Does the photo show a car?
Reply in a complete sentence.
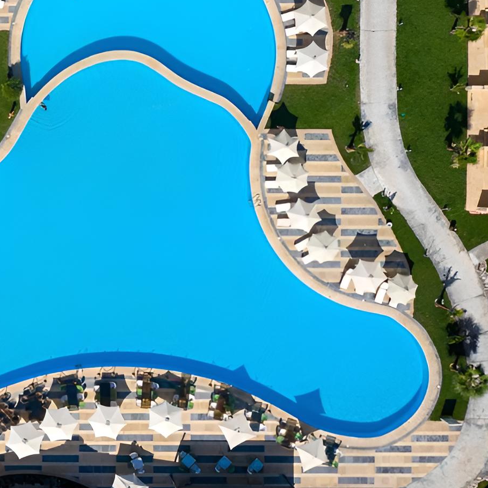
No, there is no car in the image.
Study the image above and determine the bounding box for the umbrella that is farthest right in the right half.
[384,270,421,307]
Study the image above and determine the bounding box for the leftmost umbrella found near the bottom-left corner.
[7,417,44,457]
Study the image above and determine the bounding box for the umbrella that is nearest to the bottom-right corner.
[289,434,325,469]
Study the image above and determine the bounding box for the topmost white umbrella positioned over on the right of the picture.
[291,0,328,38]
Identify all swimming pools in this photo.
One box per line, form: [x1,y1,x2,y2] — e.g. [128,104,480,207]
[0,61,427,435]
[21,0,275,125]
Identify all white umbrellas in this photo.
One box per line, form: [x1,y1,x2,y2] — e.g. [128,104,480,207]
[291,0,328,38]
[272,159,312,196]
[41,401,79,441]
[301,227,341,266]
[7,417,44,457]
[267,125,301,161]
[147,394,183,436]
[88,399,125,438]
[347,253,385,295]
[286,193,323,233]
[384,270,421,307]
[289,434,325,469]
[295,38,330,78]
[215,406,256,447]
